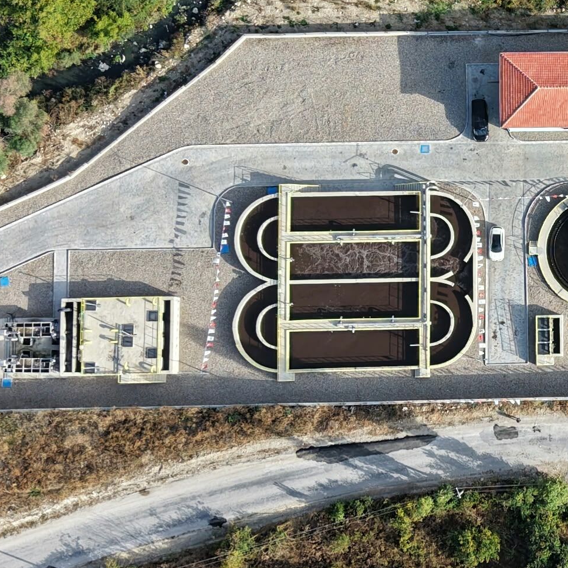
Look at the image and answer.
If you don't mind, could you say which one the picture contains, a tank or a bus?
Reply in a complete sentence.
It is a tank that can be seen here.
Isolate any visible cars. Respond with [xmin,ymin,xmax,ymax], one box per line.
[471,98,489,141]
[487,226,505,261]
